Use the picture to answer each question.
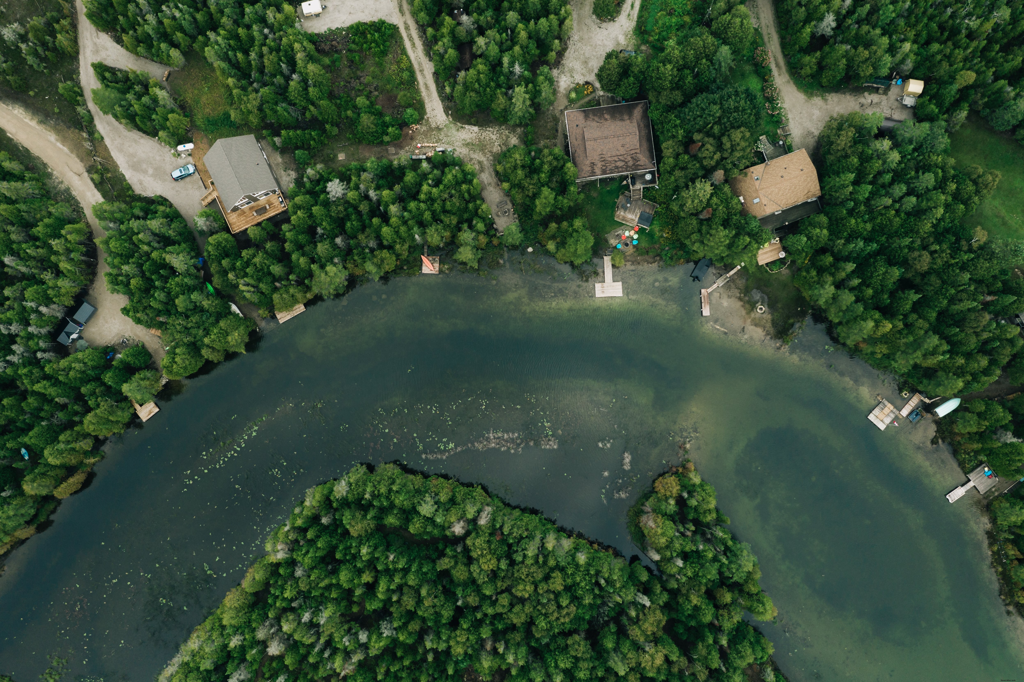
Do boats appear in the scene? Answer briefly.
Yes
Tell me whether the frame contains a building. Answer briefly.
Yes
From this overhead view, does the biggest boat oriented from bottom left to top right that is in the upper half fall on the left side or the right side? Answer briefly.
right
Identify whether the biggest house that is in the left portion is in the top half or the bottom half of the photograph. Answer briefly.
top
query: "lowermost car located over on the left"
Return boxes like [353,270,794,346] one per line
[170,164,197,182]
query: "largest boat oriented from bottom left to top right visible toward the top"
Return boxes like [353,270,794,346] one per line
[690,258,712,282]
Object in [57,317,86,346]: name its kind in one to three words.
shed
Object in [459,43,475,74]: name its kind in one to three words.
building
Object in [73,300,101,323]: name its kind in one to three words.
shed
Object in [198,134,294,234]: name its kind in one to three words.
house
